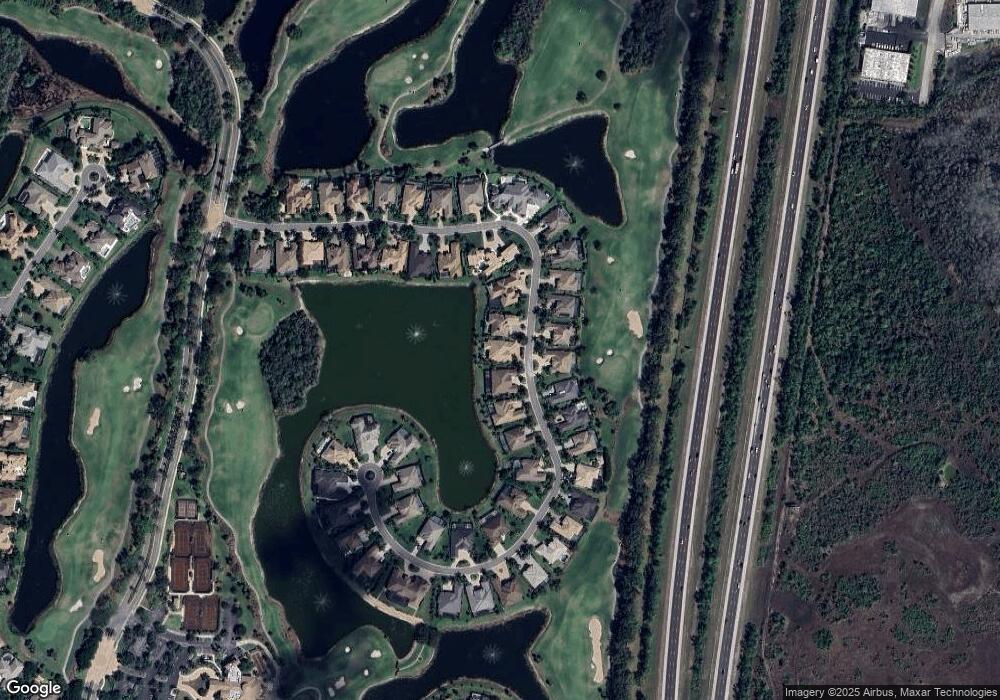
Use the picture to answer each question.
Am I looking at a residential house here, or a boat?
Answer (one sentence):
It is a residential house that can be seen here.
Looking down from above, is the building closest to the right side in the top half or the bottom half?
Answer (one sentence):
The top half of the photo is where the building closest to the right side is.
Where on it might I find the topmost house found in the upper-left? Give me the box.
[70,114,113,146]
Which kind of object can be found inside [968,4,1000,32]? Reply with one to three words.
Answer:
building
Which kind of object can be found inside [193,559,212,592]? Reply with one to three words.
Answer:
tennis court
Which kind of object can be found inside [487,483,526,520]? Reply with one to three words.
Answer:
house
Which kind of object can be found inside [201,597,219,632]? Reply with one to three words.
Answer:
tennis court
